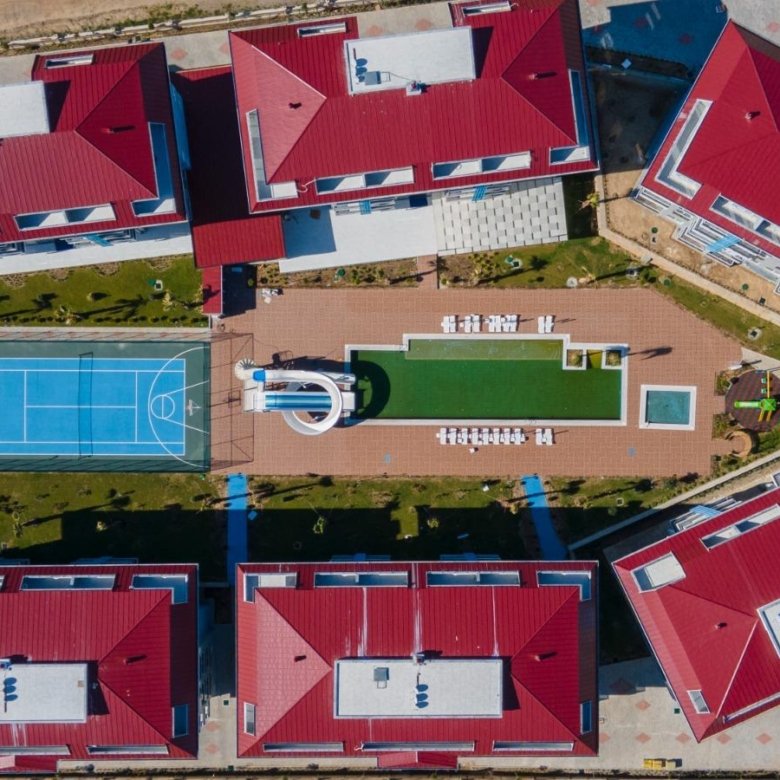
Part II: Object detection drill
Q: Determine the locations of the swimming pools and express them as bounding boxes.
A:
[640,385,696,430]
[345,334,628,426]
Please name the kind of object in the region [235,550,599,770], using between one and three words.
house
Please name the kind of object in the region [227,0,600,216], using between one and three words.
house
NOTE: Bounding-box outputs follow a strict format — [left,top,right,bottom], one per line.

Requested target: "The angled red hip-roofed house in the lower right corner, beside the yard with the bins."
[610,462,780,745]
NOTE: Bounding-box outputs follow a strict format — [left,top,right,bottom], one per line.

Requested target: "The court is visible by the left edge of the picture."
[0,342,210,471]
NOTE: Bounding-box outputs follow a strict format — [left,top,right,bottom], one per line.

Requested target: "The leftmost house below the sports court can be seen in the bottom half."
[0,550,216,770]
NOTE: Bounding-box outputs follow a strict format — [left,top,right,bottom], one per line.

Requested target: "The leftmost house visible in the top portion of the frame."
[0,37,189,256]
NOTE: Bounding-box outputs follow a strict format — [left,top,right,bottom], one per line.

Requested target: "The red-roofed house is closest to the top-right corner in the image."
[631,18,780,301]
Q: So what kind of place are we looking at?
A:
residential area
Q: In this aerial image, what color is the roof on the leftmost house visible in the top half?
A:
red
